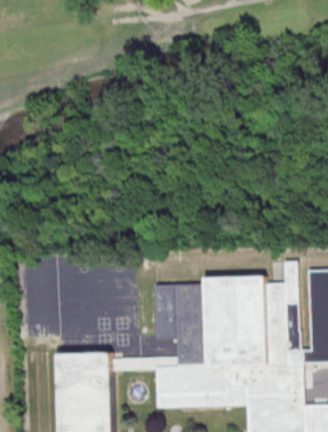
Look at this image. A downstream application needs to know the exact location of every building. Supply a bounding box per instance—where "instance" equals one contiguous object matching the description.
[156,260,328,432]
[54,352,116,432]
